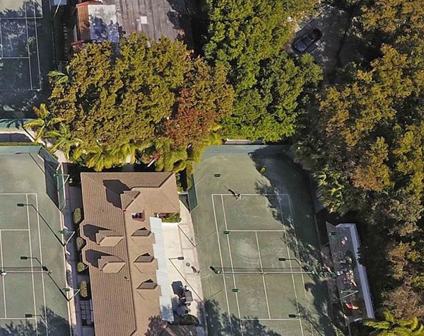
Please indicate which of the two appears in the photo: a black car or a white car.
black car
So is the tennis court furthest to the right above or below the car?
below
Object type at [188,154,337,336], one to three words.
tennis court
